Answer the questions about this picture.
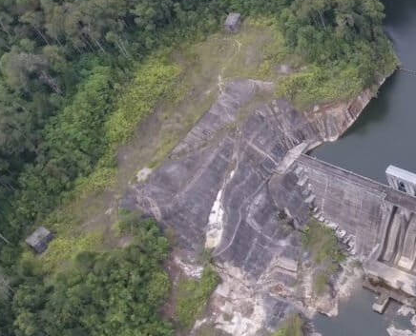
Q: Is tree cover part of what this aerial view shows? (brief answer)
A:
Yes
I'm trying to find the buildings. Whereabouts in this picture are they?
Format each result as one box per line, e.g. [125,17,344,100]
[20,230,51,259]
[219,15,242,36]
[384,162,416,194]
